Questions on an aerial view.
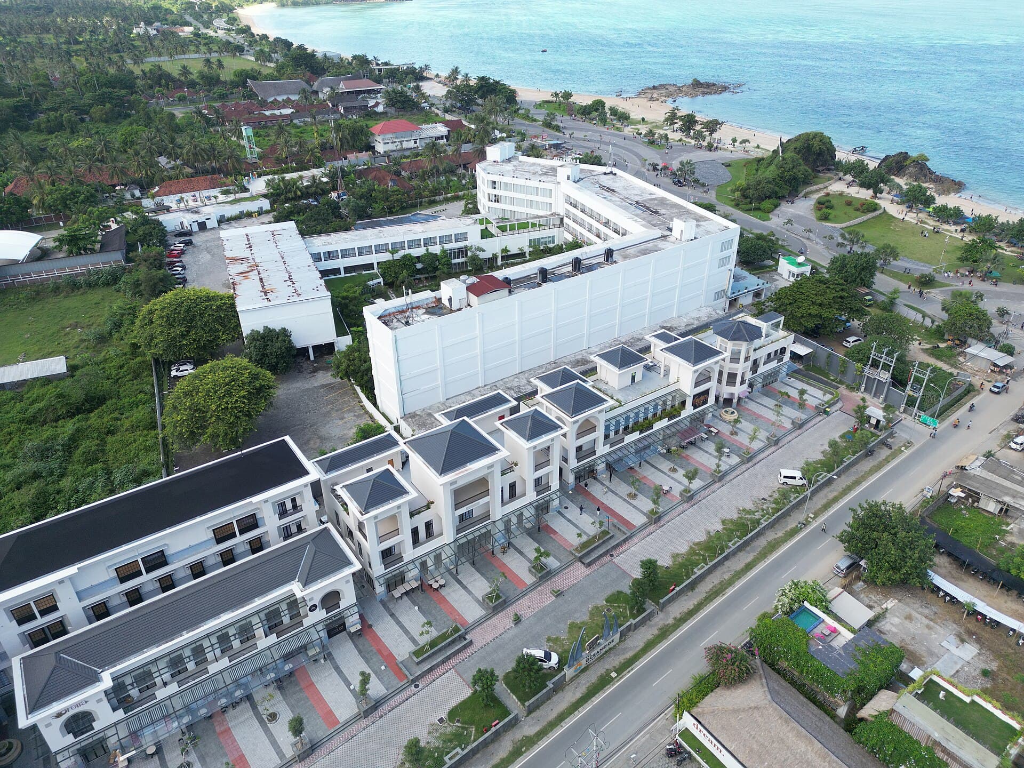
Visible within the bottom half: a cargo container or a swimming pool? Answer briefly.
swimming pool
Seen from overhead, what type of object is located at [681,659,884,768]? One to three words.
house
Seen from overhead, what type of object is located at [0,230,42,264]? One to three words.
building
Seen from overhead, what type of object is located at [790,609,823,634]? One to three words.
swimming pool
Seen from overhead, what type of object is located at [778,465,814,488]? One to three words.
vehicle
